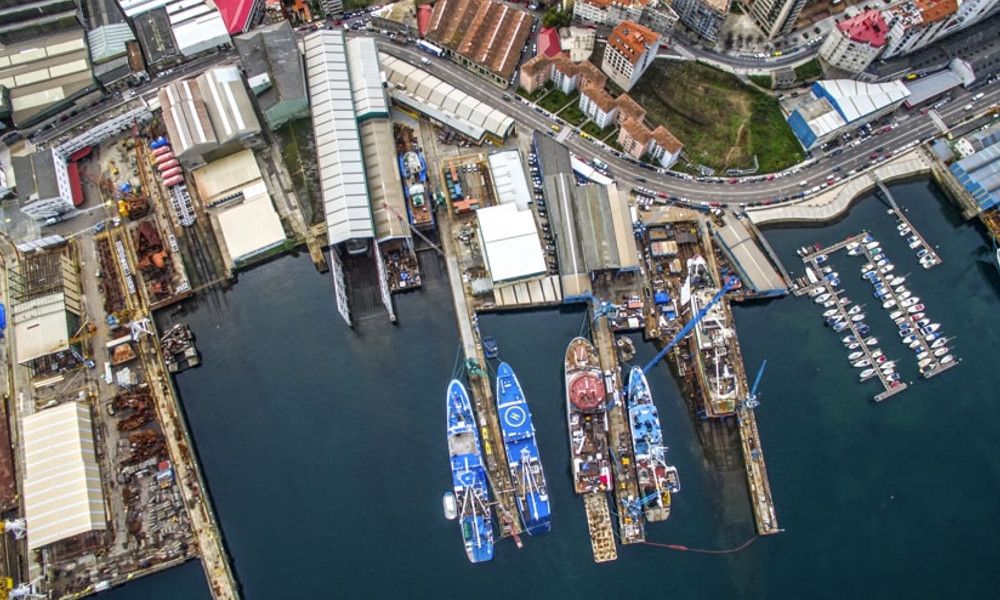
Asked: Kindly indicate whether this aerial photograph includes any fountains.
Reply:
No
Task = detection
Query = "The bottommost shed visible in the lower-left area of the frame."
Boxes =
[21,402,105,550]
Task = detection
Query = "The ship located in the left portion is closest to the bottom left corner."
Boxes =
[161,320,202,375]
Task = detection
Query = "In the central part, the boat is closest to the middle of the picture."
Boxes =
[482,337,498,359]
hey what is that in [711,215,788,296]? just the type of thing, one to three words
shed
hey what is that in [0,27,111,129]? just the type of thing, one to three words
building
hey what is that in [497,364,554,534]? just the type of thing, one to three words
ship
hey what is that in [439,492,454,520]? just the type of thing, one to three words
boat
